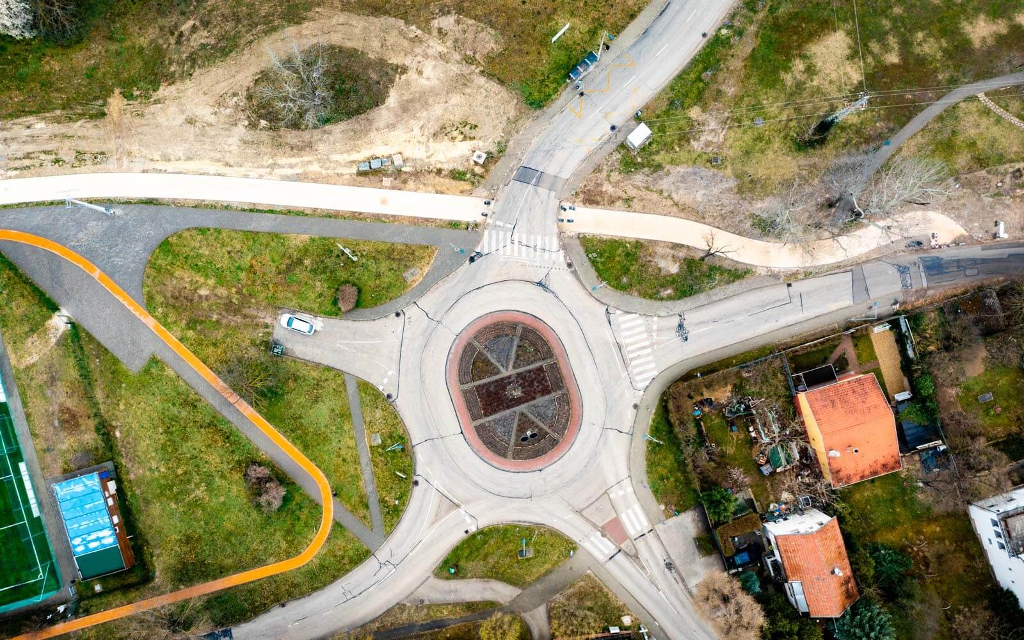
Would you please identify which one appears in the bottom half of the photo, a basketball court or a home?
home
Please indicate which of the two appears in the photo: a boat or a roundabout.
roundabout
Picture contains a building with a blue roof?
Yes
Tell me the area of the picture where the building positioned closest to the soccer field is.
bottom left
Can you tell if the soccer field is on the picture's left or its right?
left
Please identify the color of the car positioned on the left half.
white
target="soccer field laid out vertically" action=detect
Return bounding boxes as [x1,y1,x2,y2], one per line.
[0,402,56,609]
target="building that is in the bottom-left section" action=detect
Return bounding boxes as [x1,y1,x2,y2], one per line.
[53,470,137,582]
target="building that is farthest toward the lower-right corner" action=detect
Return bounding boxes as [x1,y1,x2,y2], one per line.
[964,484,1024,633]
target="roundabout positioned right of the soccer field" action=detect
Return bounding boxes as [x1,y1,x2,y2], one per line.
[263,185,819,635]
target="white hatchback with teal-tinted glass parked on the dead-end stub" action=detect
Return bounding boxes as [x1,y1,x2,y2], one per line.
[279,314,315,334]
